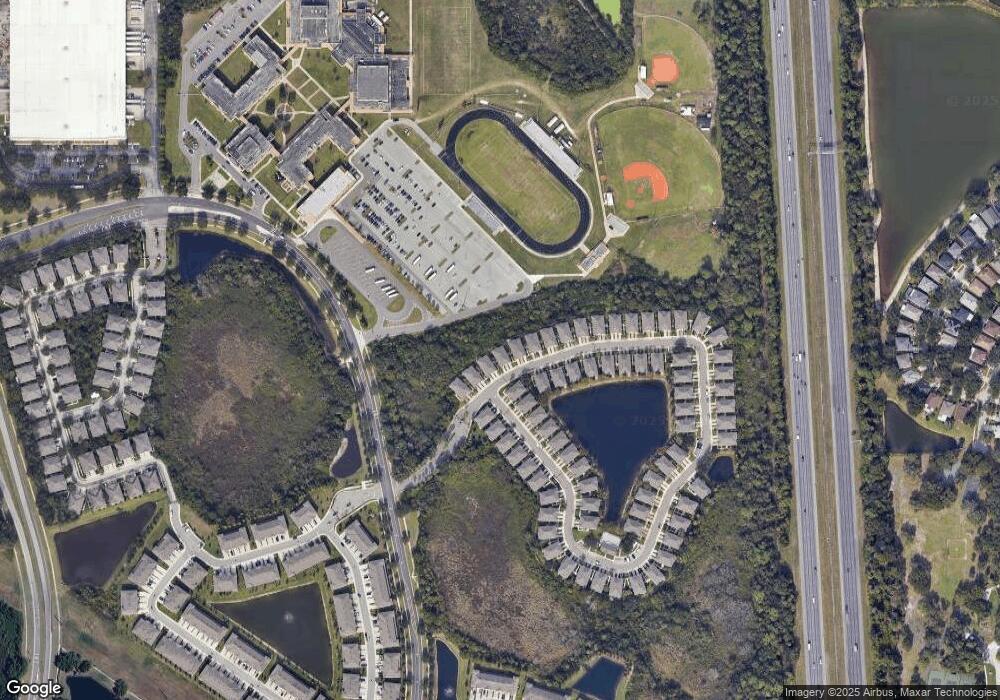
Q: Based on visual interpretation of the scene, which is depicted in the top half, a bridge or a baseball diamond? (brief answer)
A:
baseball diamond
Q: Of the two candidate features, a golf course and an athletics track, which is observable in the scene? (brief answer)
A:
athletics track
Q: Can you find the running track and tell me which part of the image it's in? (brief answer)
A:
top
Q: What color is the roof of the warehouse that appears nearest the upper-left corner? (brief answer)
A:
white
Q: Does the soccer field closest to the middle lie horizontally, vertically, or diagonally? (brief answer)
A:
diagonally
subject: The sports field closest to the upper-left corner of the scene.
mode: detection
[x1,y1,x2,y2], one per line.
[421,4,517,96]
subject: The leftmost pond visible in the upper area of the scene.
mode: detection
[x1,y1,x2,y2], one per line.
[175,227,295,286]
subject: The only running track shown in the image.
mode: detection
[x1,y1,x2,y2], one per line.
[441,108,591,254]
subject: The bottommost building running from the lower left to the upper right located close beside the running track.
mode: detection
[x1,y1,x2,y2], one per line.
[577,243,607,273]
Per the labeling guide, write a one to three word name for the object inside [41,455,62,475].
house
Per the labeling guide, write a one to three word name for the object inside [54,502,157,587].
pond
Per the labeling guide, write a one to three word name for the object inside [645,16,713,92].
baseball field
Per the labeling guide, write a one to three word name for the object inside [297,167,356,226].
building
